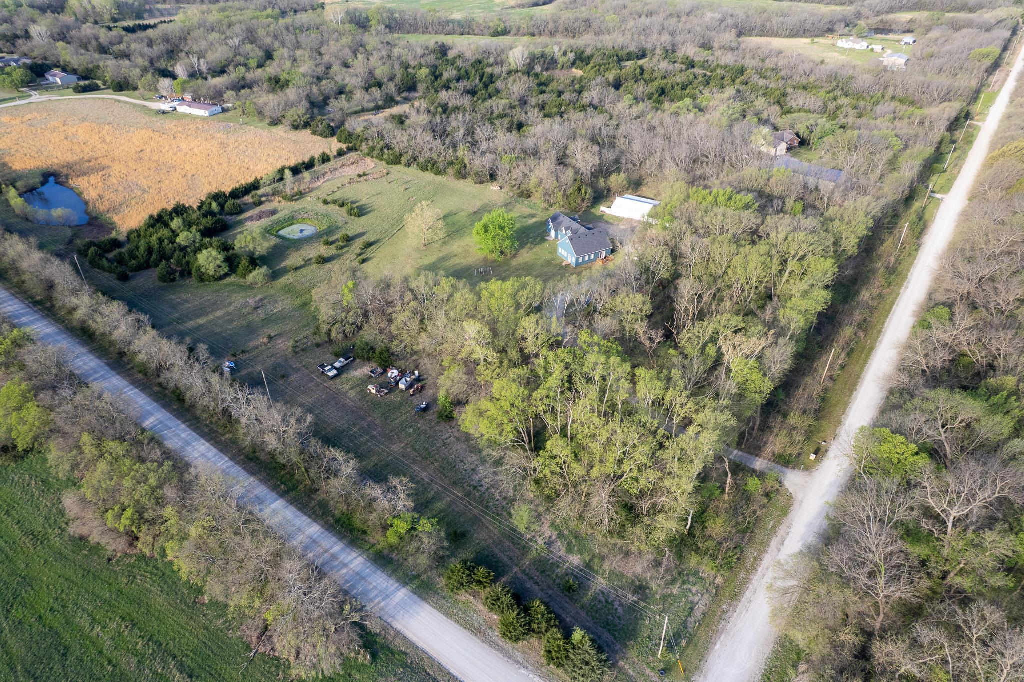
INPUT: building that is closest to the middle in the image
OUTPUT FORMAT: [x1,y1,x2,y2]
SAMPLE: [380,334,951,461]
[542,207,615,267]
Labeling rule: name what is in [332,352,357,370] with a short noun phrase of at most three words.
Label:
vehicle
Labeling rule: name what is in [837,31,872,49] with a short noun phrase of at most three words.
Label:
house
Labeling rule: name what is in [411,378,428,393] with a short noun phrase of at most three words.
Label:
work vehicle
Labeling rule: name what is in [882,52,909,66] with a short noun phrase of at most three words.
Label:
barn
